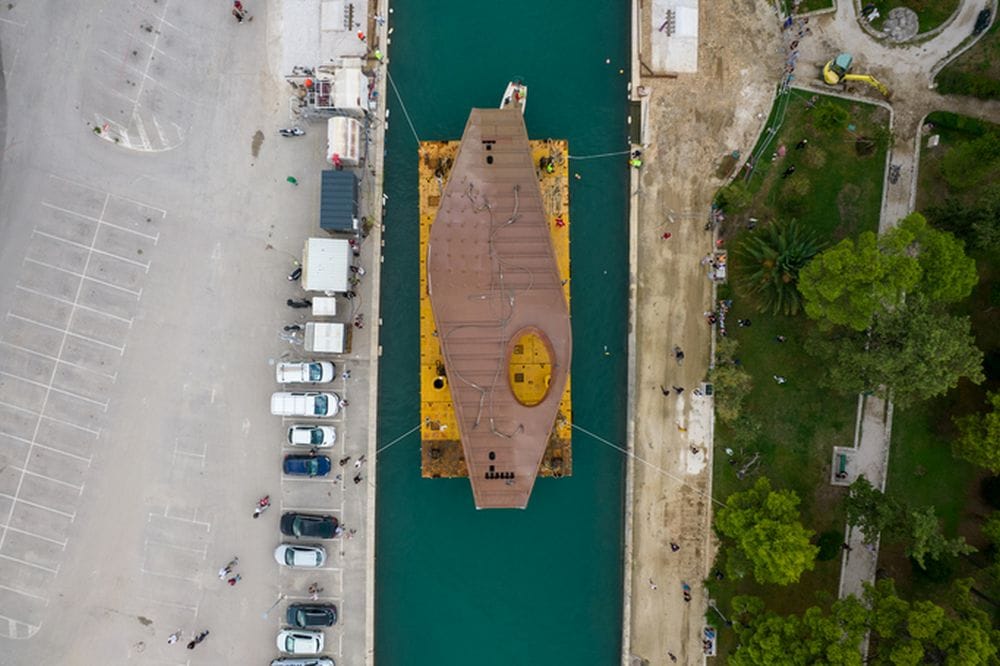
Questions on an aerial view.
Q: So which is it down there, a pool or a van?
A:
van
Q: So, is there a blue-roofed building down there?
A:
No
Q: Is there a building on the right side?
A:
No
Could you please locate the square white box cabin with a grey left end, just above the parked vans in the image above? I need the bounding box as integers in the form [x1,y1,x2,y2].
[305,323,356,353]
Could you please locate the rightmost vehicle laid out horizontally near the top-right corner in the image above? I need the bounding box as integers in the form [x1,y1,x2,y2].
[811,53,894,104]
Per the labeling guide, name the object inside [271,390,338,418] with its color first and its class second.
white van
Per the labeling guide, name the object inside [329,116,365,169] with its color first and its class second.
white tent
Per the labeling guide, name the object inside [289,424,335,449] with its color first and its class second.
white car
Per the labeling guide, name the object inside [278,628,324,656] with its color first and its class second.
white car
